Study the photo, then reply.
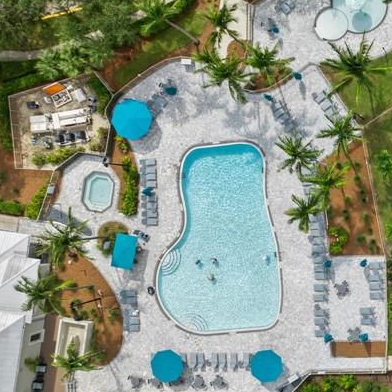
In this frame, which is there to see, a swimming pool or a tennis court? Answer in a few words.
swimming pool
